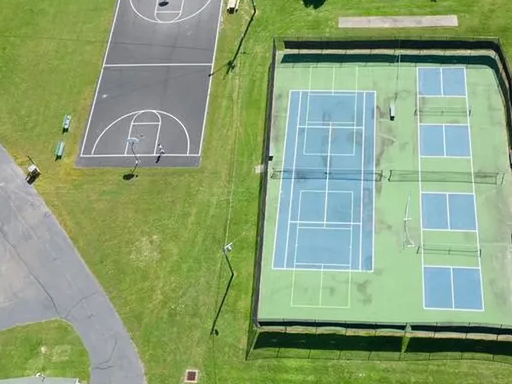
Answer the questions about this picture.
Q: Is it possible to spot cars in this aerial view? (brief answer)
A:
No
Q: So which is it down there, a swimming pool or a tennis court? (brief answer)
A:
tennis court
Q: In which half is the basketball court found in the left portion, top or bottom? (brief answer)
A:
top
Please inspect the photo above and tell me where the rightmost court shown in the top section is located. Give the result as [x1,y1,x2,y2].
[417,67,472,157]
